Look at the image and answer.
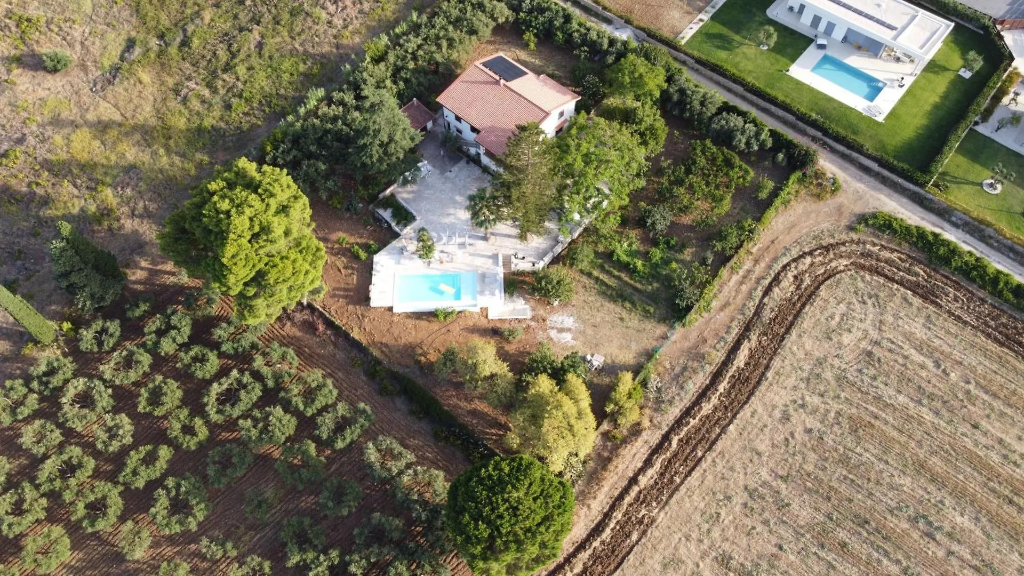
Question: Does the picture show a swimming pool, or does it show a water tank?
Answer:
swimming pool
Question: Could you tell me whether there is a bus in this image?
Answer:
No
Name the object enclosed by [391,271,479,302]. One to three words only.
swimming pool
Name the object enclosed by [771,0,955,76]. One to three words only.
house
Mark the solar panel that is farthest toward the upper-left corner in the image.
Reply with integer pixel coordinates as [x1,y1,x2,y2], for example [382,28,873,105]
[480,57,533,81]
